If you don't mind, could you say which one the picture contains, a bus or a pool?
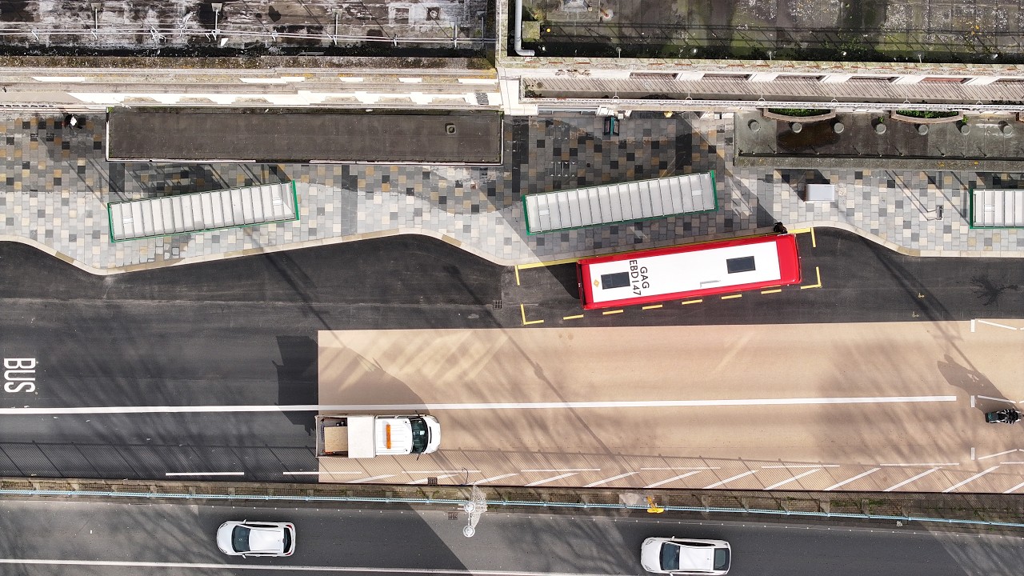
bus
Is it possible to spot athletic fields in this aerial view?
No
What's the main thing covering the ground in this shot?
paved ground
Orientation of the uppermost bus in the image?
from left to right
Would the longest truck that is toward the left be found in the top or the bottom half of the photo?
bottom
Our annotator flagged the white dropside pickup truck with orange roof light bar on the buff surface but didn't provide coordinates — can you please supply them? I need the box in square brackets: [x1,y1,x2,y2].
[315,409,441,463]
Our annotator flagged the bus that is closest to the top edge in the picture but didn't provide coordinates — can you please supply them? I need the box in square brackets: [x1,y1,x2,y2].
[571,232,803,310]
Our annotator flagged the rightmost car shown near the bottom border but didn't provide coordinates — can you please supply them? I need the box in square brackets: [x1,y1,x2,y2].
[640,535,732,576]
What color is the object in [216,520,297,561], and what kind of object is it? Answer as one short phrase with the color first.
white car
